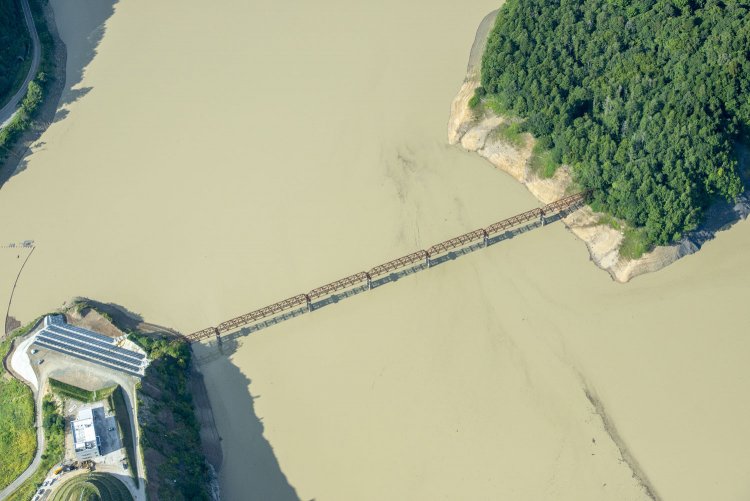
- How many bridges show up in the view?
1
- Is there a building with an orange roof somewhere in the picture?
No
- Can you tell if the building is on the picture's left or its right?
left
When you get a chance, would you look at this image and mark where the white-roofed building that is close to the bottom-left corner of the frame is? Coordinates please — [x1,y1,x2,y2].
[69,409,103,457]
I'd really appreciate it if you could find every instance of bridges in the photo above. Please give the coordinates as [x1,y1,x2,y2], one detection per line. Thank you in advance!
[178,190,591,352]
